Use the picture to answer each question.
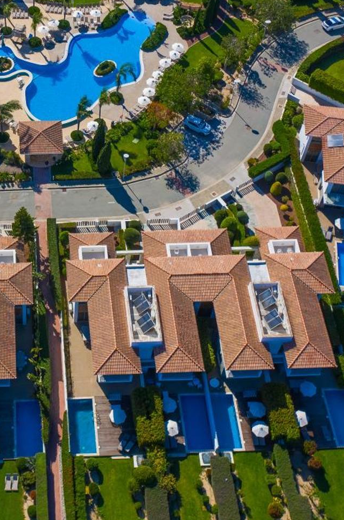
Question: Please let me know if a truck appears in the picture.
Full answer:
No, the scene contains no truck.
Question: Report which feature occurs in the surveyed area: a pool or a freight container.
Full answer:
There is a pool in the scene.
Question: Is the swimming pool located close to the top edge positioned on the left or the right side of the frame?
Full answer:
You can find the swimming pool located close to the top edge on the left side of the picture.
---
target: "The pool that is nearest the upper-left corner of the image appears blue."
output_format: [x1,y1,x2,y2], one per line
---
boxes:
[0,8,157,123]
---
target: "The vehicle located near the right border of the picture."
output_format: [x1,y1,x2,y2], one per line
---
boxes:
[322,16,344,30]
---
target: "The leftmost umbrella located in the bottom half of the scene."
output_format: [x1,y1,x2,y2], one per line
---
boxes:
[107,407,126,427]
